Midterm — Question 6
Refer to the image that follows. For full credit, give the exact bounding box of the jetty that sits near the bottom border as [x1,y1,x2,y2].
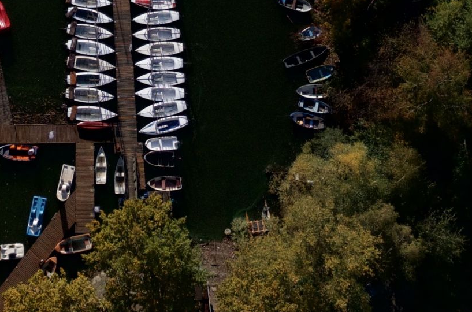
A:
[0,192,75,312]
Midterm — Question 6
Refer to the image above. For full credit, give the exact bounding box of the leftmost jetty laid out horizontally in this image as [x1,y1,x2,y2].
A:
[0,123,78,144]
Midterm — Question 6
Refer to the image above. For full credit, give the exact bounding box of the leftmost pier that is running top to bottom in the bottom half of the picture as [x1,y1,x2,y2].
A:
[75,143,95,233]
